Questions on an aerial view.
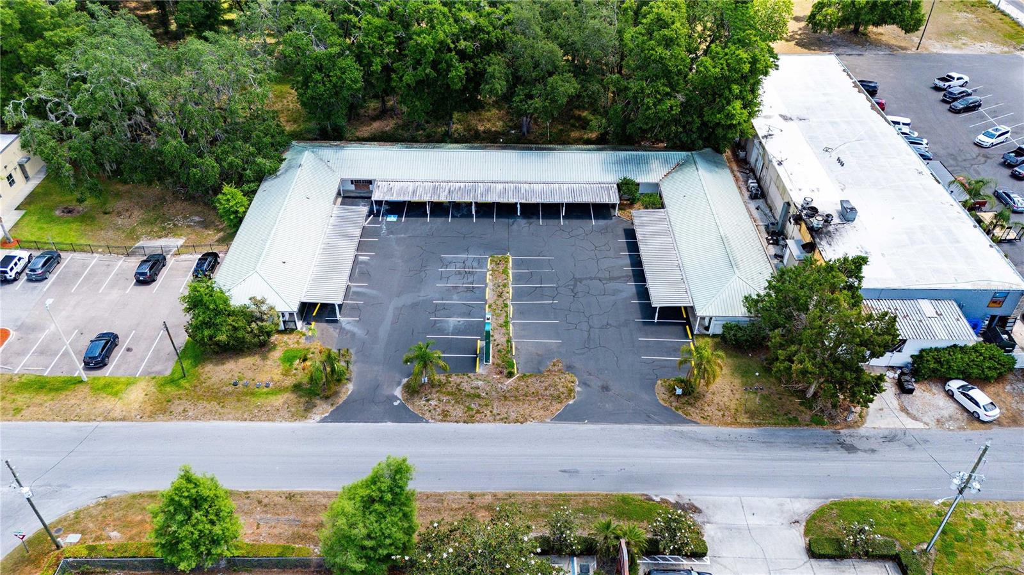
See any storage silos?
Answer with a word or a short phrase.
No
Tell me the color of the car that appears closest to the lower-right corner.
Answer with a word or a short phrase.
white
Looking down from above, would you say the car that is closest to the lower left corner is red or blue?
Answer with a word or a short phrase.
blue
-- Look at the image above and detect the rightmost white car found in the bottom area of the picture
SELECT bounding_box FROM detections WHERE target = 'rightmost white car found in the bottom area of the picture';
[938,379,1000,420]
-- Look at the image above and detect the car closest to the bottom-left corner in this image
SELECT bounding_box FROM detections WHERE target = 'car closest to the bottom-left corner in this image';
[85,327,125,364]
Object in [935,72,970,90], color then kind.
white vehicle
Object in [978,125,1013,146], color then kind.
white car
